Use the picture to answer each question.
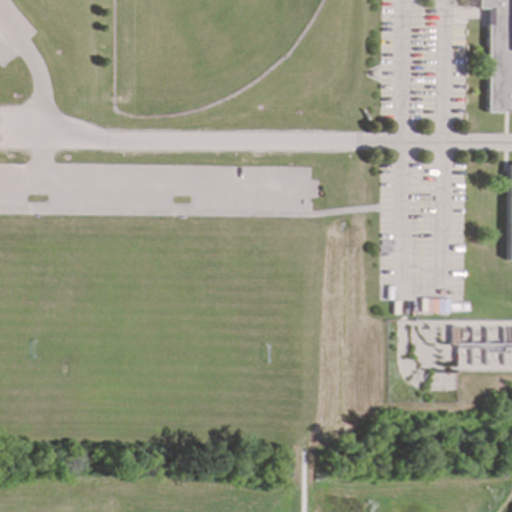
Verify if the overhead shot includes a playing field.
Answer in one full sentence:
Yes, there's a playing field down there.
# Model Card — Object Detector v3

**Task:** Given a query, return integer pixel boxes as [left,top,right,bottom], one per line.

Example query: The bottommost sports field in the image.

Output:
[26,268,274,430]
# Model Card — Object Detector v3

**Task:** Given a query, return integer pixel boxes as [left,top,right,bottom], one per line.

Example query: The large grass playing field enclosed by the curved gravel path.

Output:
[117,0,321,114]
